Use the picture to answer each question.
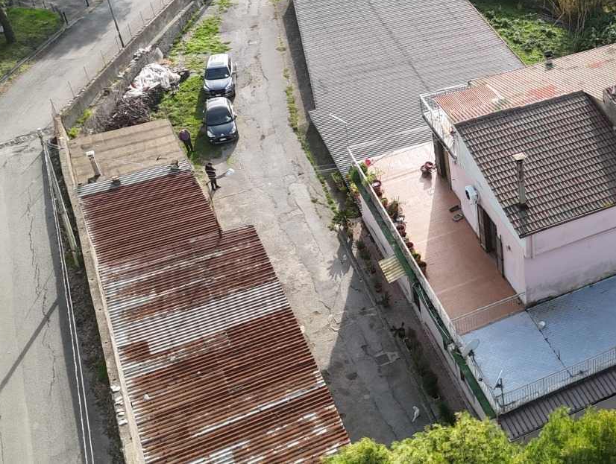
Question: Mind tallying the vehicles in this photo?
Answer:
two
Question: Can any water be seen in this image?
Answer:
No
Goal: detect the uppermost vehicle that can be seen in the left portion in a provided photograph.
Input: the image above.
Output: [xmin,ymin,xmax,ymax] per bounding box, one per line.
[198,48,238,97]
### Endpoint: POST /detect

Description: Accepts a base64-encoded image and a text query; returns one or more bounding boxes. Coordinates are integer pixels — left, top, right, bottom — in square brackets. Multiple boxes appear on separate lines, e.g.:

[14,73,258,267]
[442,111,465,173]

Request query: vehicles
[198,48,238,97]
[201,93,242,144]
